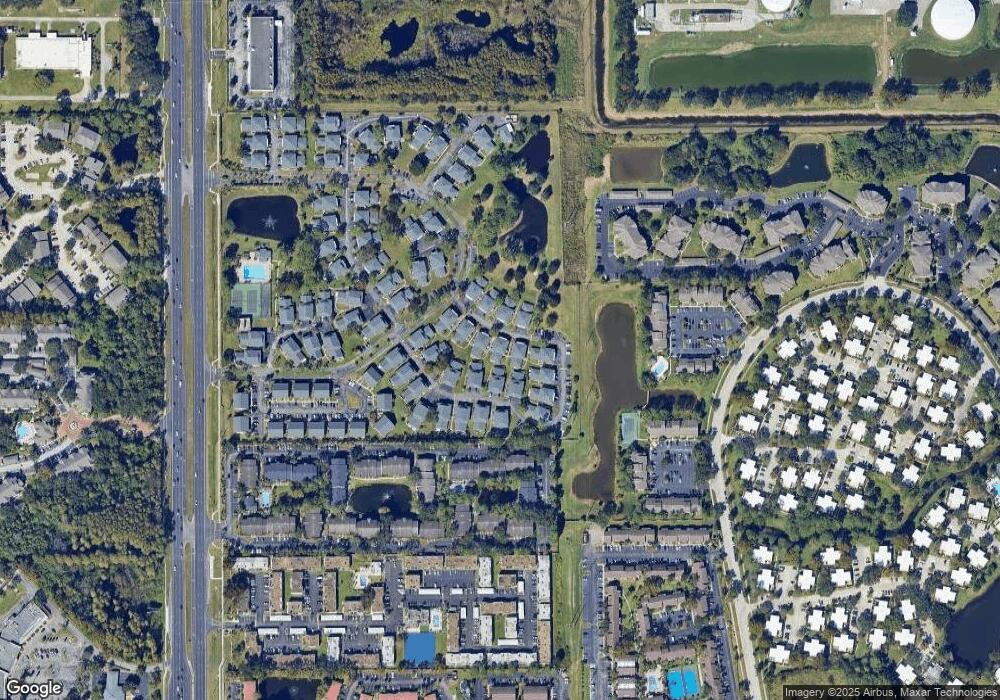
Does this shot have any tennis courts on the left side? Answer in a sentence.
Yes, I can see a tennis court on the left side.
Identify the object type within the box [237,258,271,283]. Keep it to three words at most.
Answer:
swimming pool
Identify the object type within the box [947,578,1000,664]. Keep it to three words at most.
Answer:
pond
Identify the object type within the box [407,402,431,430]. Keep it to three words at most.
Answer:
house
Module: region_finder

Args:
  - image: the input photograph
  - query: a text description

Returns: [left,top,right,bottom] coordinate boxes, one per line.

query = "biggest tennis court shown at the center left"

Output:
[231,284,261,317]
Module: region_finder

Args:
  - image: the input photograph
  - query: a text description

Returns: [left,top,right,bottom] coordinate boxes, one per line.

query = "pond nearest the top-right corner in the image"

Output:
[900,47,1000,87]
